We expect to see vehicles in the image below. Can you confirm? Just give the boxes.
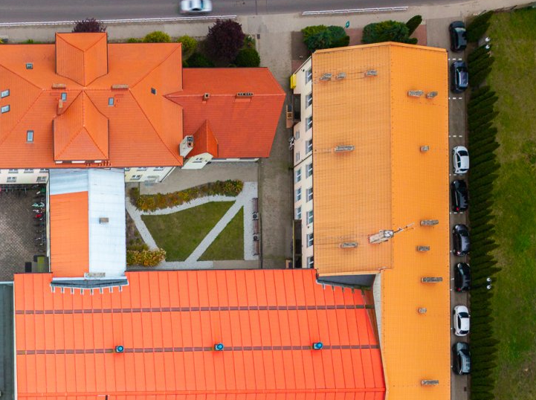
[451,342,471,377]
[452,263,470,293]
[451,180,470,213]
[452,306,470,337]
[450,60,469,94]
[451,147,470,174]
[449,20,467,55]
[451,224,471,257]
[179,0,213,15]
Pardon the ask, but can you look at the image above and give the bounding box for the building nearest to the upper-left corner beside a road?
[0,31,184,194]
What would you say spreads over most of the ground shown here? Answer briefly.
buildings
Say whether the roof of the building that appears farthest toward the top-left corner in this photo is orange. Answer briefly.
Yes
